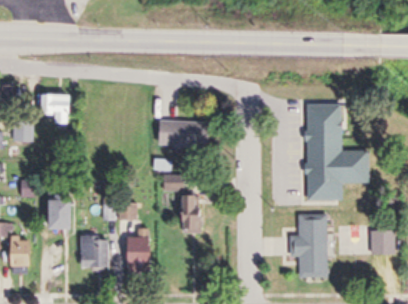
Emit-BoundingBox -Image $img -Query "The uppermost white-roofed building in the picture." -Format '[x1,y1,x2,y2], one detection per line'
[40,94,70,126]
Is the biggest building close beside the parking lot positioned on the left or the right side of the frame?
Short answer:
right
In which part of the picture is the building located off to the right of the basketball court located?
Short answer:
bottom right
